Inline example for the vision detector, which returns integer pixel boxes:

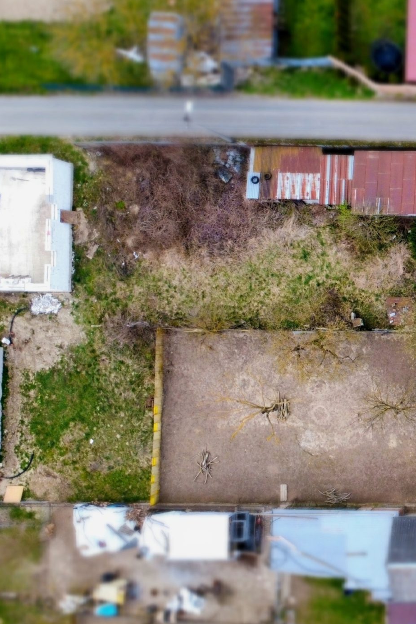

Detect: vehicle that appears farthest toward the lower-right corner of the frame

[232,512,264,547]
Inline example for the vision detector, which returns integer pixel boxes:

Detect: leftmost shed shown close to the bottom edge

[271,508,398,597]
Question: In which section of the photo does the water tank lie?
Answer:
top right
